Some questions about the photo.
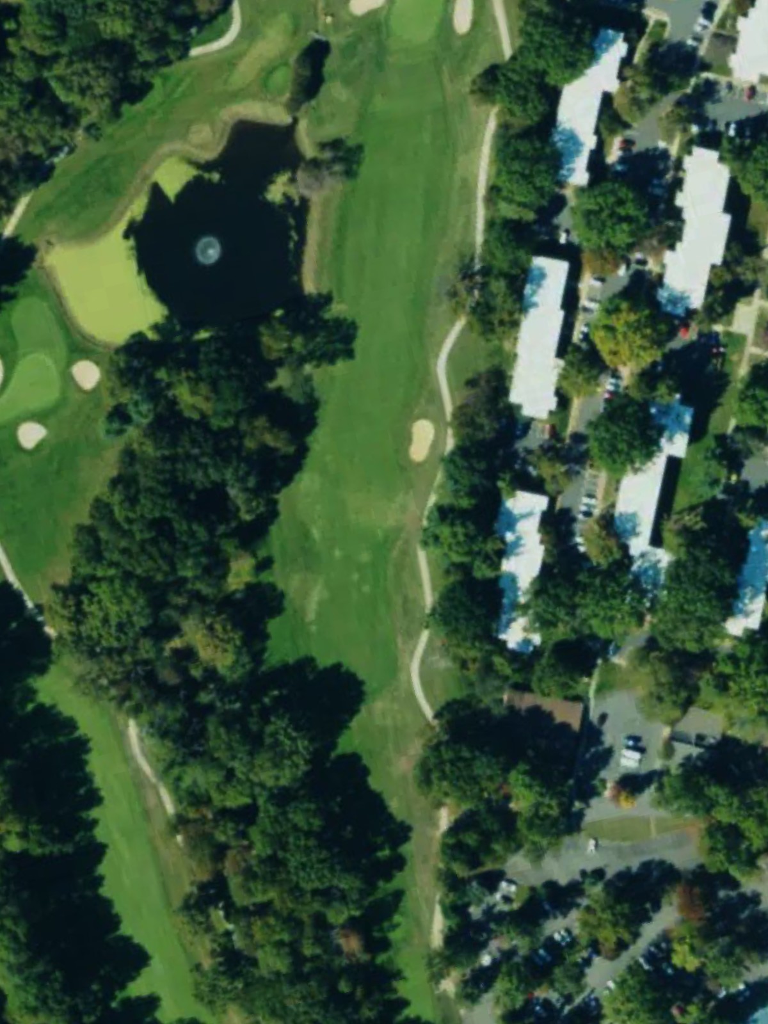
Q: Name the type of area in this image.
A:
golf course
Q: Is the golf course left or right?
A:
left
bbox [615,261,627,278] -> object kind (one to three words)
vehicle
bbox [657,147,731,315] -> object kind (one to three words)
building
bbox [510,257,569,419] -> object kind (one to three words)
building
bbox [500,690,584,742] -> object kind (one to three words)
house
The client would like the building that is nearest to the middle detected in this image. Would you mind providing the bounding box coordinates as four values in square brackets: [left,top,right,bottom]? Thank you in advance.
[500,490,549,651]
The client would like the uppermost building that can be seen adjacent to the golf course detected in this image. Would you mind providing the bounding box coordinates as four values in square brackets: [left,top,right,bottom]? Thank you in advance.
[556,31,628,186]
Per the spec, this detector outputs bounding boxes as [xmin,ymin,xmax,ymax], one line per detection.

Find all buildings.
[725,515,768,636]
[556,31,628,186]
[615,407,694,597]
[728,0,768,84]
[670,708,724,748]
[657,147,731,315]
[510,257,569,419]
[500,490,549,651]
[500,690,584,742]
[751,1003,768,1024]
